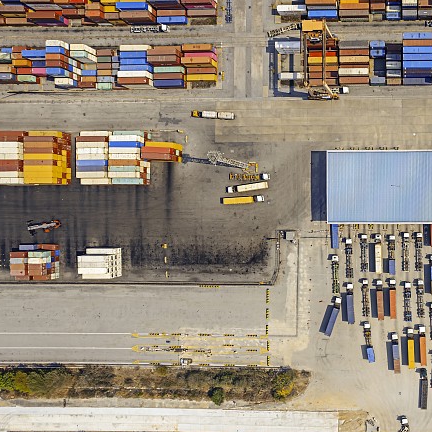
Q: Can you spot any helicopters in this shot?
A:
No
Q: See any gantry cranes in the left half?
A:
No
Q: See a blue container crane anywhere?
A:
No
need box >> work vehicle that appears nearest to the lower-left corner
[18,219,59,237]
